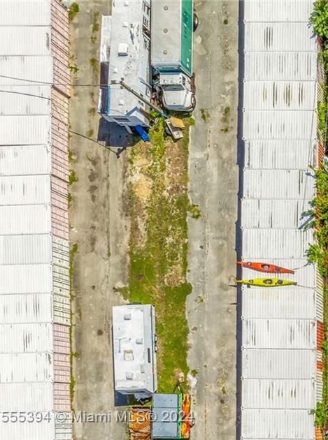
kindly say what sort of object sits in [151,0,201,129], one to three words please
truck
